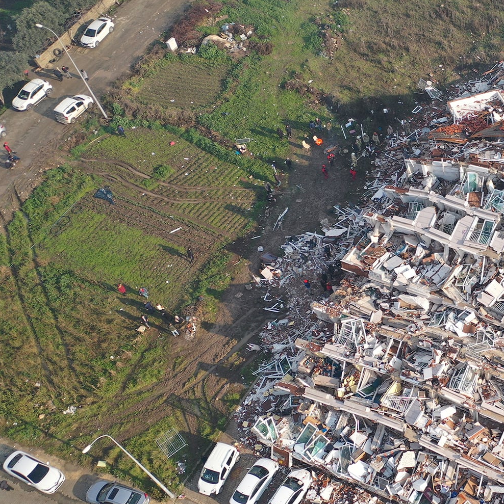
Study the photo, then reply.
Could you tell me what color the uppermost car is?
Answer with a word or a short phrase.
white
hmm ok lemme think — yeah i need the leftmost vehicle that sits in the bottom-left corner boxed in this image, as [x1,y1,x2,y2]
[5,454,64,496]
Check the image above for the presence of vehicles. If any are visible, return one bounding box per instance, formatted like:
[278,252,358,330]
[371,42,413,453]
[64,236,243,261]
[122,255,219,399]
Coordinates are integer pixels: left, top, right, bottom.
[10,80,56,113]
[77,19,115,50]
[54,98,97,127]
[229,460,279,504]
[271,471,313,504]
[5,454,64,496]
[88,483,151,504]
[196,442,242,503]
